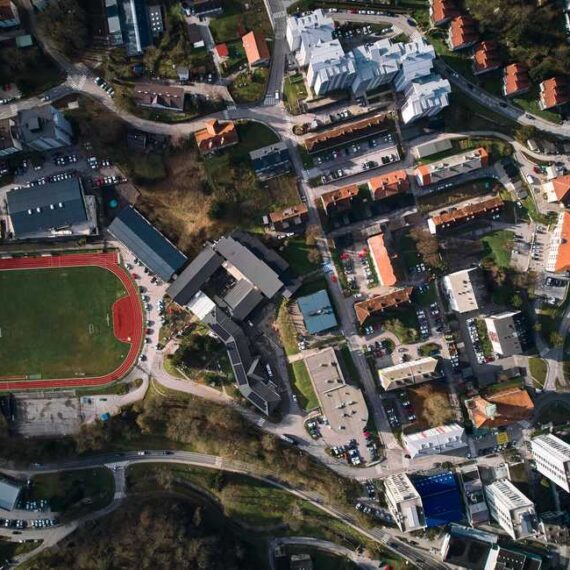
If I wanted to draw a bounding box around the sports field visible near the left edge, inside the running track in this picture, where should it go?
[0,266,130,384]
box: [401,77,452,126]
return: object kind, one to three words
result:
building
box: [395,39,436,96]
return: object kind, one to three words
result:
building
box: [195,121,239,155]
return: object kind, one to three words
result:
house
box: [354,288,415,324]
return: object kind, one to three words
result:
house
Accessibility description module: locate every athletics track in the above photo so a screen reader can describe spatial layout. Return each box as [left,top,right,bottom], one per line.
[0,253,143,390]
